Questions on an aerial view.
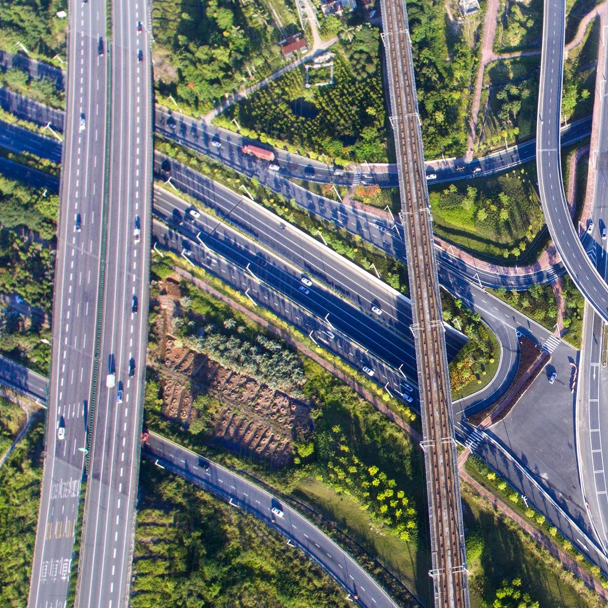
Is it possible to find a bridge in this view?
Yes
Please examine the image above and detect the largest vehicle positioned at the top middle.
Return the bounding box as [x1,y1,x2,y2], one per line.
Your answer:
[245,145,274,160]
